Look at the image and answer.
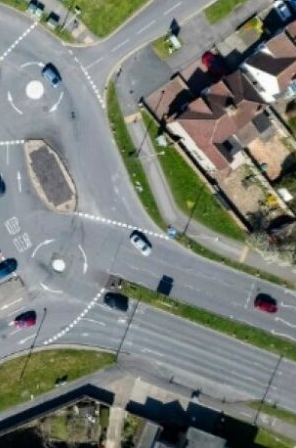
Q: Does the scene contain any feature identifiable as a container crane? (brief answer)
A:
No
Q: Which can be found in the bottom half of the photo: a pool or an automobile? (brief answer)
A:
automobile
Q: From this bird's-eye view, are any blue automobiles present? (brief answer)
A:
Yes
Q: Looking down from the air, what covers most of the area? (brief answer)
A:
paved ground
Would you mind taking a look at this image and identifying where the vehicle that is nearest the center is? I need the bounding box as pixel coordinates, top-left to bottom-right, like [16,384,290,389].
[130,233,154,257]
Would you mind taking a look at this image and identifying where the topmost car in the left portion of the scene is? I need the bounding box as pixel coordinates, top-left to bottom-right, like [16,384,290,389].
[42,63,62,87]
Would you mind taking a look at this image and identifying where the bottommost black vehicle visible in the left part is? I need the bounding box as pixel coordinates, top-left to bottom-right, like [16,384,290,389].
[104,296,131,312]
